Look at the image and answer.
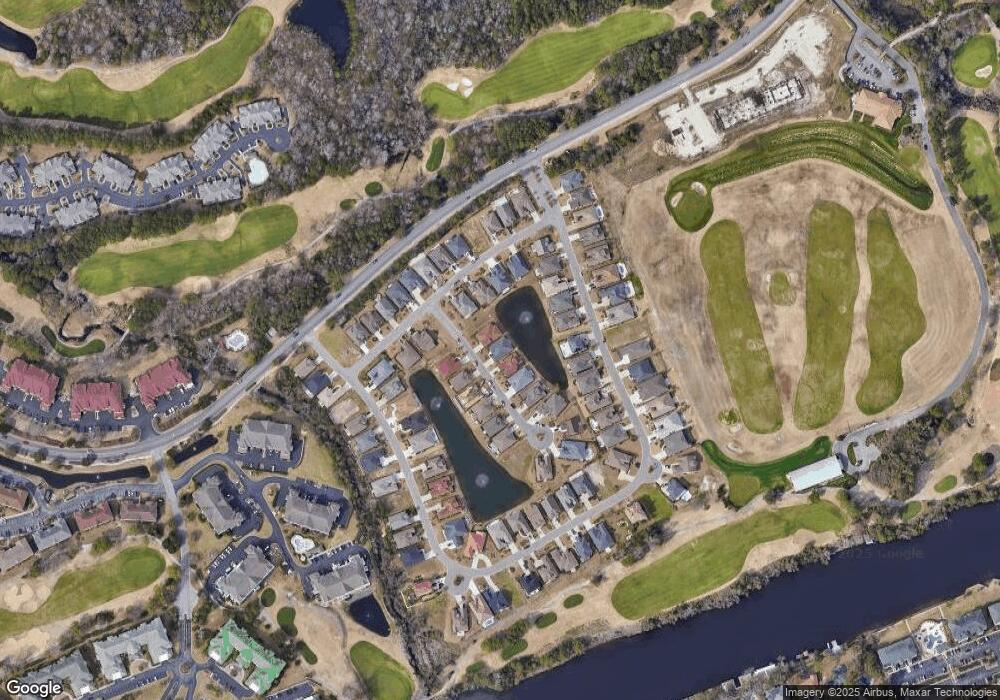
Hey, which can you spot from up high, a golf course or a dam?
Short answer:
golf course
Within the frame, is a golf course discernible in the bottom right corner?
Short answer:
Yes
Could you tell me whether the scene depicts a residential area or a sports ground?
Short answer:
residential area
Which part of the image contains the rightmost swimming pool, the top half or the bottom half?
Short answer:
bottom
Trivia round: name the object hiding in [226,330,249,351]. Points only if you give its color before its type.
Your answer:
white swimming pool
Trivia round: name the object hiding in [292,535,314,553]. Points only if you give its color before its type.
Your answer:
white swimming pool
